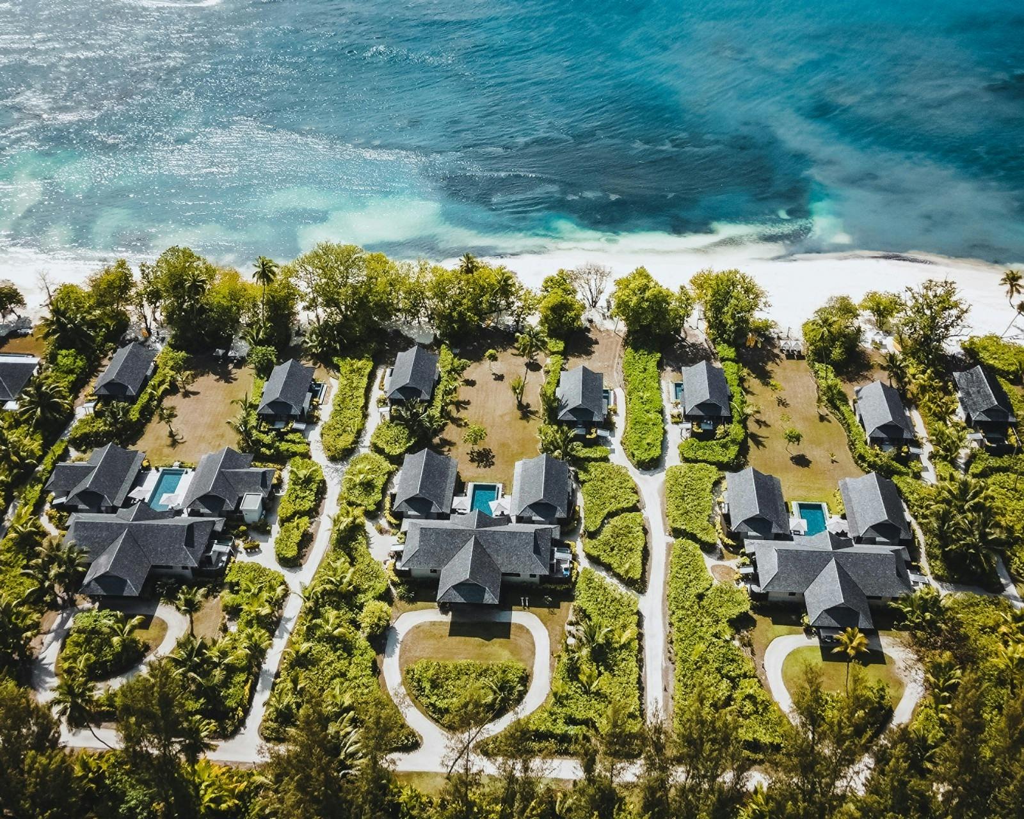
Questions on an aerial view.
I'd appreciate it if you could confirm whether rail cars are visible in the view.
No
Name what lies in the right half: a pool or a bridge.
pool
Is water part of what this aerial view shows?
Yes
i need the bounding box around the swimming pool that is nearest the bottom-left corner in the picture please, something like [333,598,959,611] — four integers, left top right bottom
[133,465,193,517]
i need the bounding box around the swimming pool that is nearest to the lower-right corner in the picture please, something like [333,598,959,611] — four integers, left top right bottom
[790,500,829,543]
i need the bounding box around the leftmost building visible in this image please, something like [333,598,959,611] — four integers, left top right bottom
[0,355,42,414]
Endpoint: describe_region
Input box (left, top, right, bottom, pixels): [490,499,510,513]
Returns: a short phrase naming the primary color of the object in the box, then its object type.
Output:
white umbrella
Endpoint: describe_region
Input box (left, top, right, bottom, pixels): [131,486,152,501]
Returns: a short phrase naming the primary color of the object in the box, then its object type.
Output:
white umbrella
